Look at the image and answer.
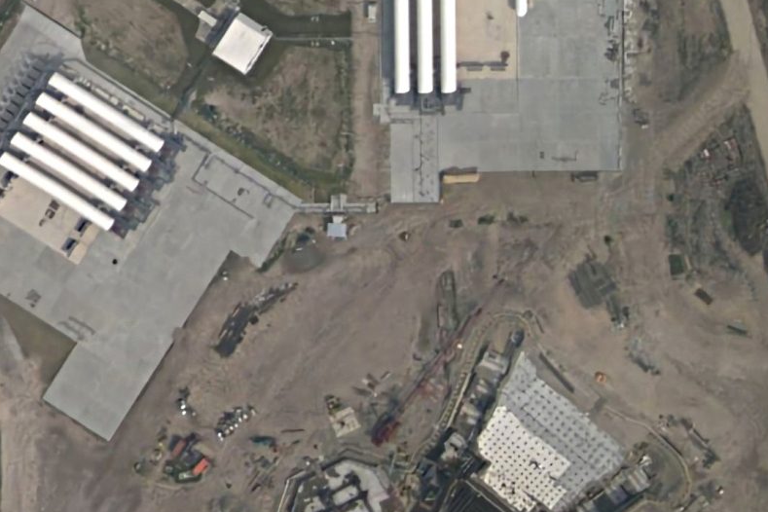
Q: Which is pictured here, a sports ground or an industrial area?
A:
industrial area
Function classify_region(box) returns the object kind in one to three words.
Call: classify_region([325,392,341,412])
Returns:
work vehicle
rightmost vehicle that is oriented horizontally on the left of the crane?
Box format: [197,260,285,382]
[252,433,277,446]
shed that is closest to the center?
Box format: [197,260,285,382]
[326,222,347,241]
